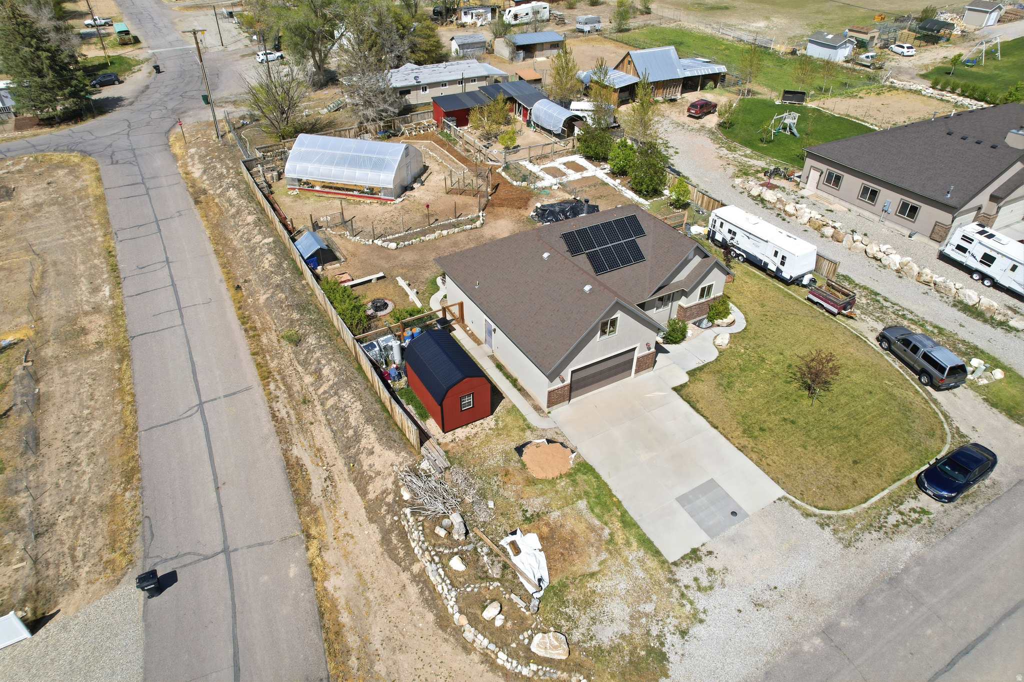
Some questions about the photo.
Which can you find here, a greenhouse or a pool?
greenhouse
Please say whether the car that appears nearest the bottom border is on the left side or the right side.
right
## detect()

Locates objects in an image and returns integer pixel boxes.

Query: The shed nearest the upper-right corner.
[933,3,993,30]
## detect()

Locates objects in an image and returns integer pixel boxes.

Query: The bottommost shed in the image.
[402,328,495,433]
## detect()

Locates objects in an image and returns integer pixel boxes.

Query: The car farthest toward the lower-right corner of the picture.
[927,440,1004,497]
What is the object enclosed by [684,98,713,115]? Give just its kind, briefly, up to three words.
car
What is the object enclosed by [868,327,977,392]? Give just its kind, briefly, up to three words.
truck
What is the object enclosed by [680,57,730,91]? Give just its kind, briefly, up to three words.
shed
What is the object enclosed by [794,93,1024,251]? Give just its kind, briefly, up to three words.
house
